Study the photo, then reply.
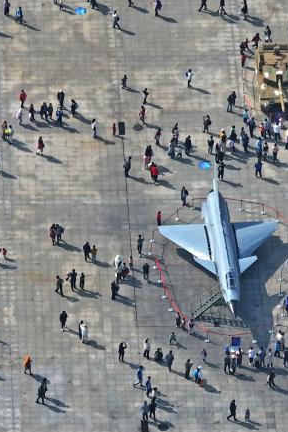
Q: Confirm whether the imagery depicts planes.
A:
Yes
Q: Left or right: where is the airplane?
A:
right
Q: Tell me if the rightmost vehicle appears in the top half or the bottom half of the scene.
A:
top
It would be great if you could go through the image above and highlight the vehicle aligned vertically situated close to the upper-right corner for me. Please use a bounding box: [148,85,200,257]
[255,38,288,112]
